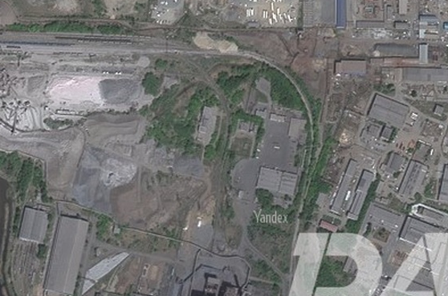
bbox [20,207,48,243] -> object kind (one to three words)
building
